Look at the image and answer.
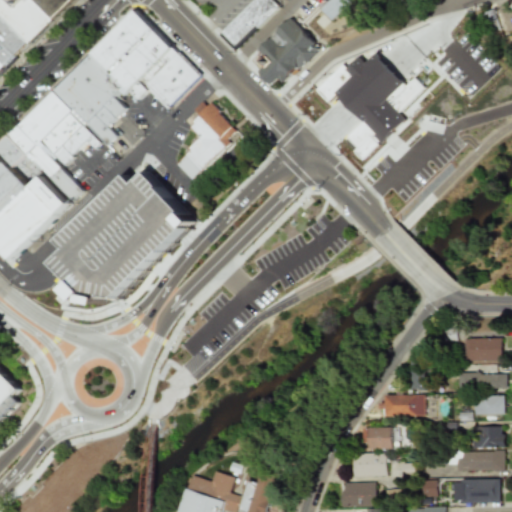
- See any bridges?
Yes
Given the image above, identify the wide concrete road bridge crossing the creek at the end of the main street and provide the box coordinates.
[366,218,462,304]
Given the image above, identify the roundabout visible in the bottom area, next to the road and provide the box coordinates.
[0,277,180,457]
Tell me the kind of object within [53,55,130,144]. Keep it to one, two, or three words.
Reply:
building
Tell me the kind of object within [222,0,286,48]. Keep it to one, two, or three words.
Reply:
building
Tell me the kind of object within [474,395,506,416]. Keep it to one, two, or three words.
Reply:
house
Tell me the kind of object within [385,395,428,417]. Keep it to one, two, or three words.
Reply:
house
